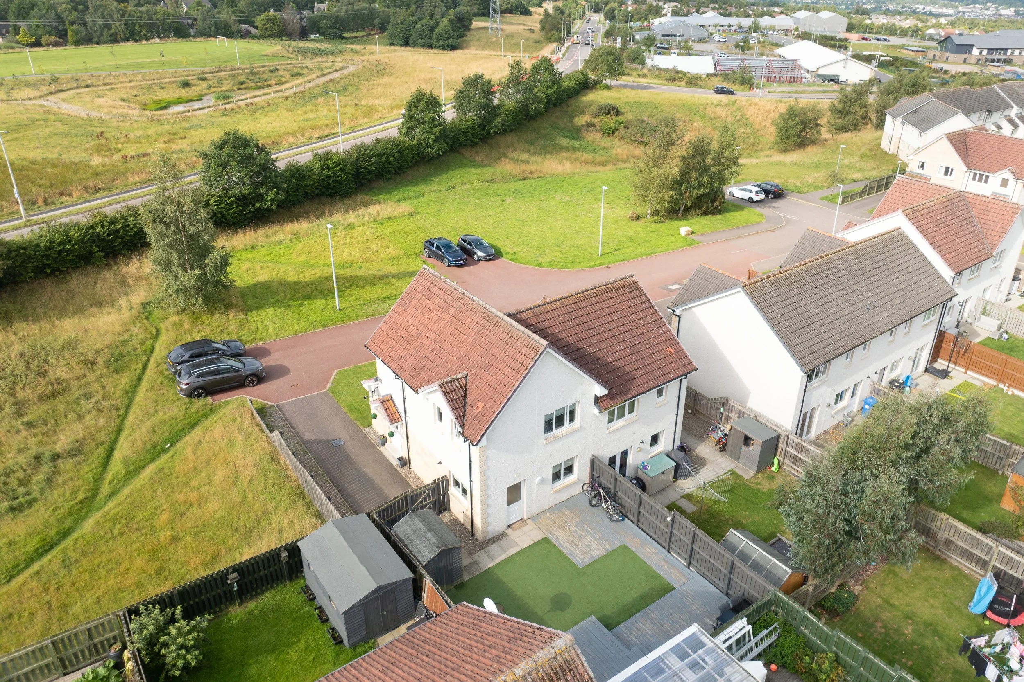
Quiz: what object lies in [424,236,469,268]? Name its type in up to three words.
car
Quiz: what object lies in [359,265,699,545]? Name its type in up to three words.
house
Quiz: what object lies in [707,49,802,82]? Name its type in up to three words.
building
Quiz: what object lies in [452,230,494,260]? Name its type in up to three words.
car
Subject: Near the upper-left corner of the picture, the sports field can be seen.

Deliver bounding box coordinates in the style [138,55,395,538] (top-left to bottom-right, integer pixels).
[0,42,297,76]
